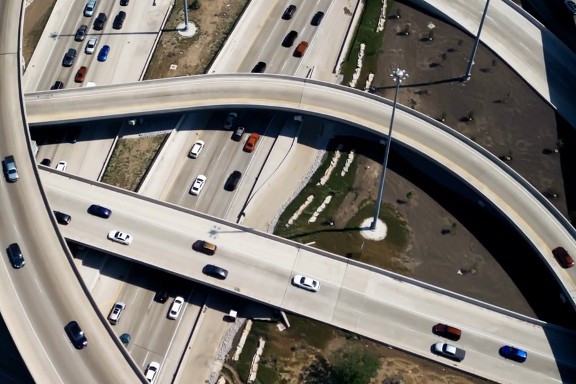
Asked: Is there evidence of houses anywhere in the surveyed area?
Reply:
No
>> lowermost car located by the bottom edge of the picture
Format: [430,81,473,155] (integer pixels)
[145,358,160,384]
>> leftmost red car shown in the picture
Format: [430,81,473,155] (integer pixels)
[74,66,88,83]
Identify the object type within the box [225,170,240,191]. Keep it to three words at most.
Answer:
car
